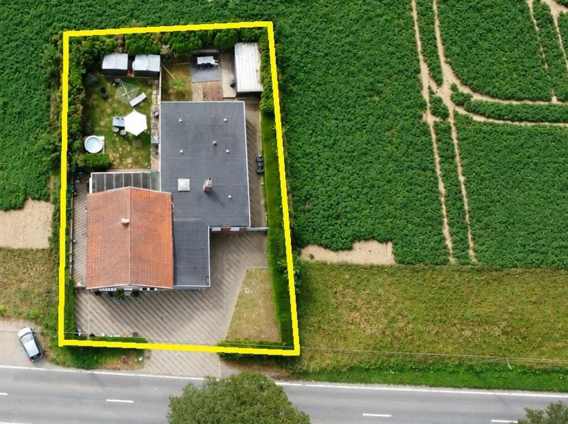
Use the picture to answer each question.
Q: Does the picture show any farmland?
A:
Yes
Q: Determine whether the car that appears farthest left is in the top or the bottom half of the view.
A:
bottom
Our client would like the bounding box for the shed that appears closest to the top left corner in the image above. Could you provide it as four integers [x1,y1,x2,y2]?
[102,52,128,79]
